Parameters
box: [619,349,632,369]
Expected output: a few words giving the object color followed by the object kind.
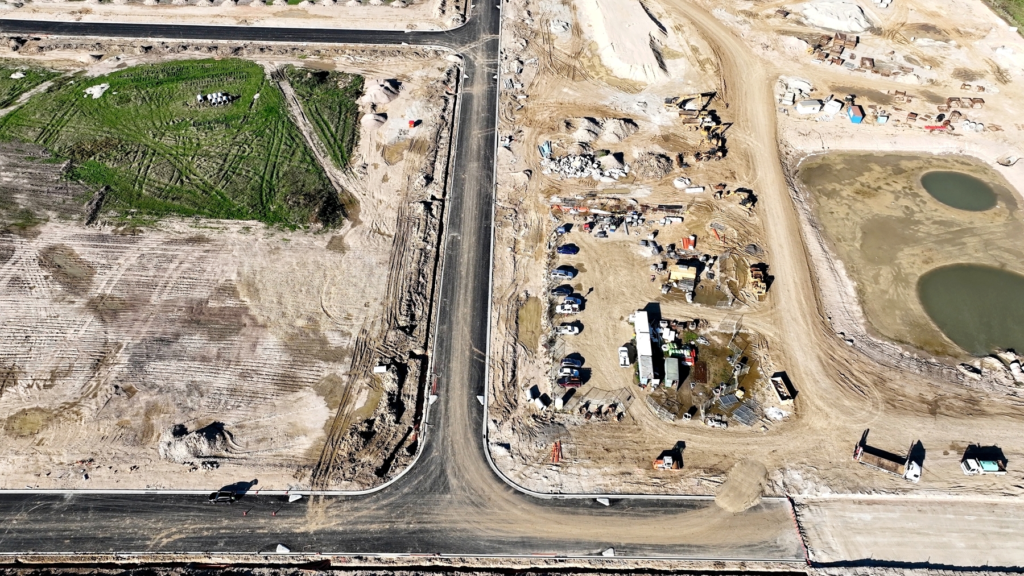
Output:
white vehicle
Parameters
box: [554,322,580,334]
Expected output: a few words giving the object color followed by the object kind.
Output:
white vehicle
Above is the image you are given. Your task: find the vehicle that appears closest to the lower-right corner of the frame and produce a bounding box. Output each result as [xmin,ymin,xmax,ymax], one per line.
[962,457,1014,477]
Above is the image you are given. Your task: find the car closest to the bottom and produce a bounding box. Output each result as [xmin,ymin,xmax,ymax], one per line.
[206,490,241,505]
